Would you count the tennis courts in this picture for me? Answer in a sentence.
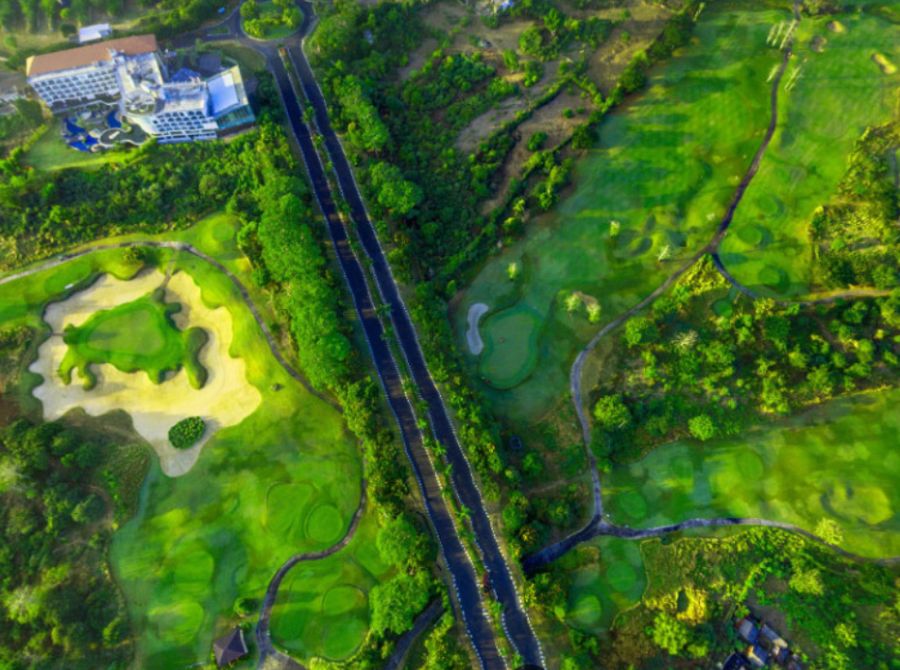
There are no tennis courts in this view.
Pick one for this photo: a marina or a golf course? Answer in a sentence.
This looks like a golf course.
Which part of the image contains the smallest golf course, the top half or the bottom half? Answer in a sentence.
Seen from above, the smallest golf course lies in the bottom half of the view.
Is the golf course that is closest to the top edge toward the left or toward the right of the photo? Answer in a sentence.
It is on the right.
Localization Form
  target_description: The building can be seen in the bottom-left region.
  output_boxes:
[209,623,250,670]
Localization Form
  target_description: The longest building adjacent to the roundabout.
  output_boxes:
[27,35,265,148]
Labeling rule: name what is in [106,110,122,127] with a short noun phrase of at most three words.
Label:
swimming pool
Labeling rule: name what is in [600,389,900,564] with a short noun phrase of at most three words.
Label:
golf course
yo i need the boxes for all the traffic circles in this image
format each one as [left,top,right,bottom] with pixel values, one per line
[230,0,314,45]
